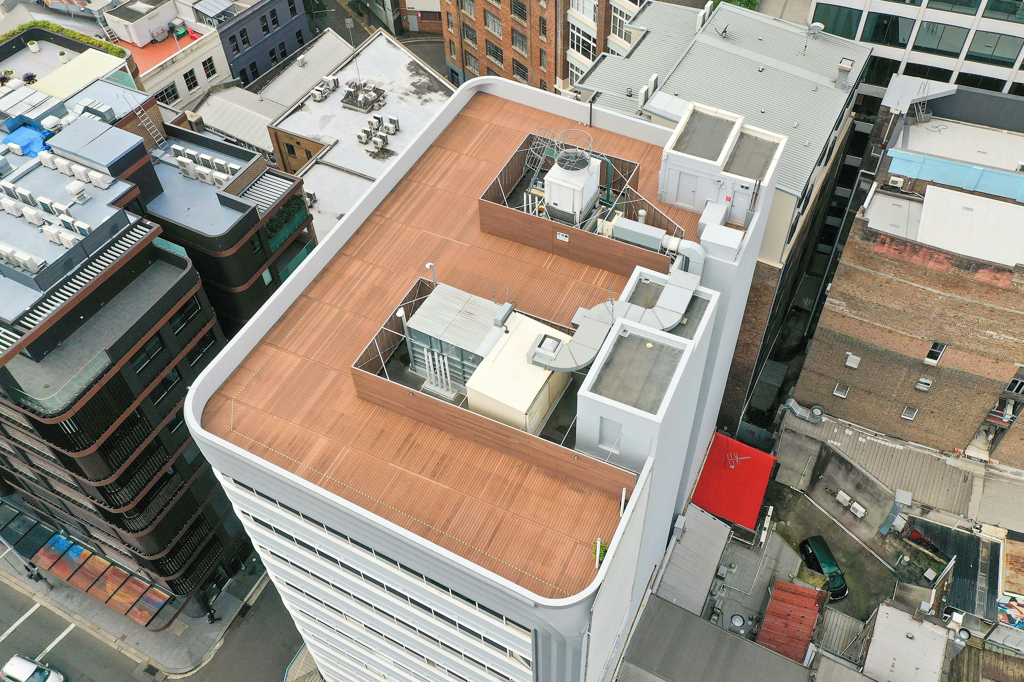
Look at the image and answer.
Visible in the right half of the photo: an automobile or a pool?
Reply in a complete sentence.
The feature located in the right half of the photo is an automobile.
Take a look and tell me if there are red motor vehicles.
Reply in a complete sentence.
No, there's no red motor vehicle here.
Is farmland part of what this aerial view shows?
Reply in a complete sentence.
No, there's no farmland in this view.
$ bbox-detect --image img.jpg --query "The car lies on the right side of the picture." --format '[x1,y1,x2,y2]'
[800,536,848,605]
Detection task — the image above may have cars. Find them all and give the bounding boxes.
[0,653,62,682]
[800,536,848,605]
